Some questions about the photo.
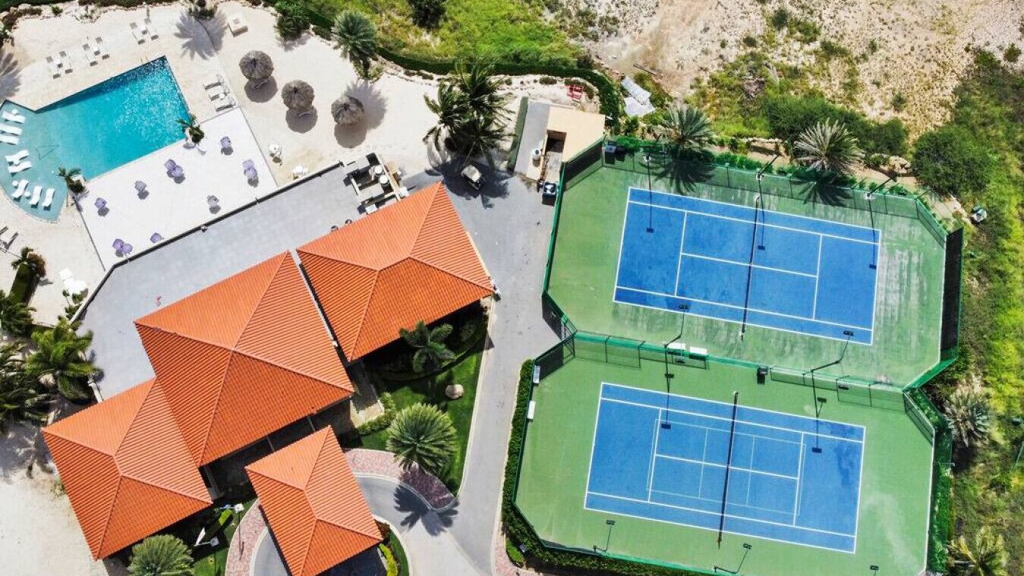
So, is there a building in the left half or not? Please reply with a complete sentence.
Yes, a building shows up in the left half.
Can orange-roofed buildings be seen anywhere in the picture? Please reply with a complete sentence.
Yes, you can see an orange-roofed building in this photo.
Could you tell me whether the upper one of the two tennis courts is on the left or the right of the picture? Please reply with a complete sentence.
You can find the upper one of the two tennis courts on the right side of the picture.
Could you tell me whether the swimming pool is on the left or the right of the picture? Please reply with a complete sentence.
The swimming pool is on the left side of the image.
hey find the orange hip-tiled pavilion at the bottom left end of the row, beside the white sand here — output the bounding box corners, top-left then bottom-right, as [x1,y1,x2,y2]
[43,375,215,560]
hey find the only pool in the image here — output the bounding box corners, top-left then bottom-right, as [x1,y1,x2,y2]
[0,54,190,221]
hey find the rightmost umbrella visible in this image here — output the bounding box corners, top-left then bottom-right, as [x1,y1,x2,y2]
[331,101,367,135]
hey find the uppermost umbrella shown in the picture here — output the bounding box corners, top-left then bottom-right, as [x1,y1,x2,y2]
[238,58,275,92]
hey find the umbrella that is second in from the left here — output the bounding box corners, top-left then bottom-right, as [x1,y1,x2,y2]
[281,88,316,120]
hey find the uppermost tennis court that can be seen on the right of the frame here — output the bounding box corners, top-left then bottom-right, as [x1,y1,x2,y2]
[547,146,944,389]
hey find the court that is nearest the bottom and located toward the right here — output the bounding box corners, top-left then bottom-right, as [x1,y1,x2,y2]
[517,336,934,576]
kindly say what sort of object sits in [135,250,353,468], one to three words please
building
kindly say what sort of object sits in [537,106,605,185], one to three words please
building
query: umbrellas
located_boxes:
[238,58,275,92]
[281,88,316,120]
[331,101,367,135]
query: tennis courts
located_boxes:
[547,146,944,389]
[517,336,934,576]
